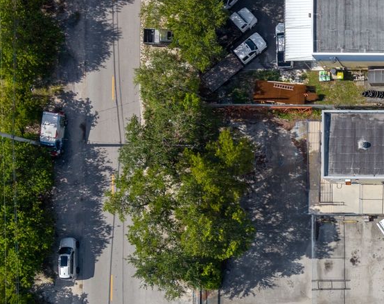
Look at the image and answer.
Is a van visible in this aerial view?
Yes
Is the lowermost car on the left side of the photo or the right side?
left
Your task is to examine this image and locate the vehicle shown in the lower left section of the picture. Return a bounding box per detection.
[56,238,80,279]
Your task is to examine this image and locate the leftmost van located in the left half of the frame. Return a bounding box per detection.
[37,109,66,158]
